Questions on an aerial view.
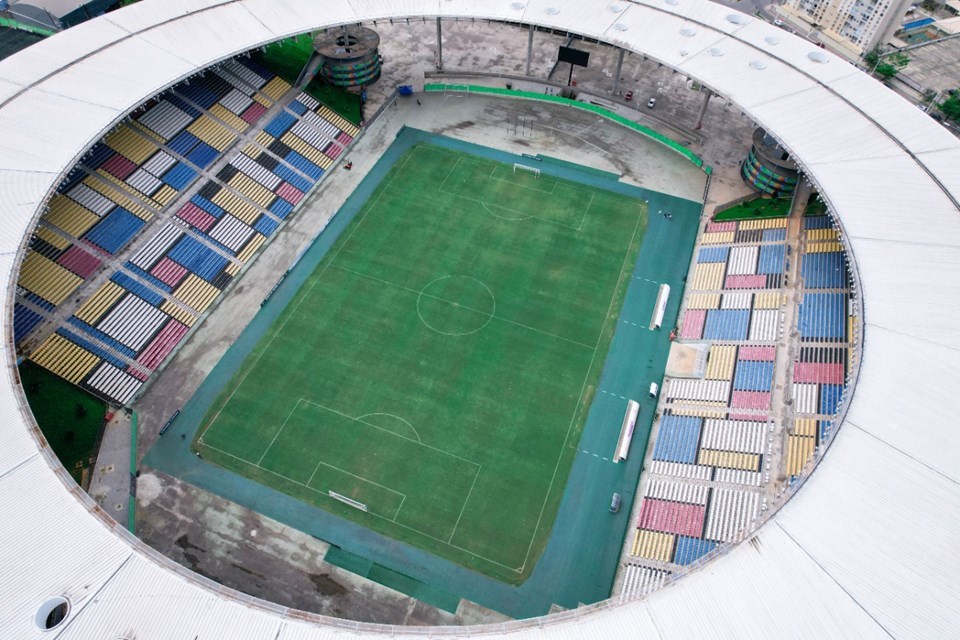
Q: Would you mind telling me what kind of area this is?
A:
sports ground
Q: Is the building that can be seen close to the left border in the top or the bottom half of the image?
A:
top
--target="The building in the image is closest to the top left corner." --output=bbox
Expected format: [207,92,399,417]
[48,2,138,30]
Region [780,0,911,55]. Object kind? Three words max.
building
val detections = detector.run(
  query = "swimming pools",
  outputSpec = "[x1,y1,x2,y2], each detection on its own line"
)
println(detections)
[897,16,933,31]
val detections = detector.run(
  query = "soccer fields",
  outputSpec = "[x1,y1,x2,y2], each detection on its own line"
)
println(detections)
[139,127,701,621]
